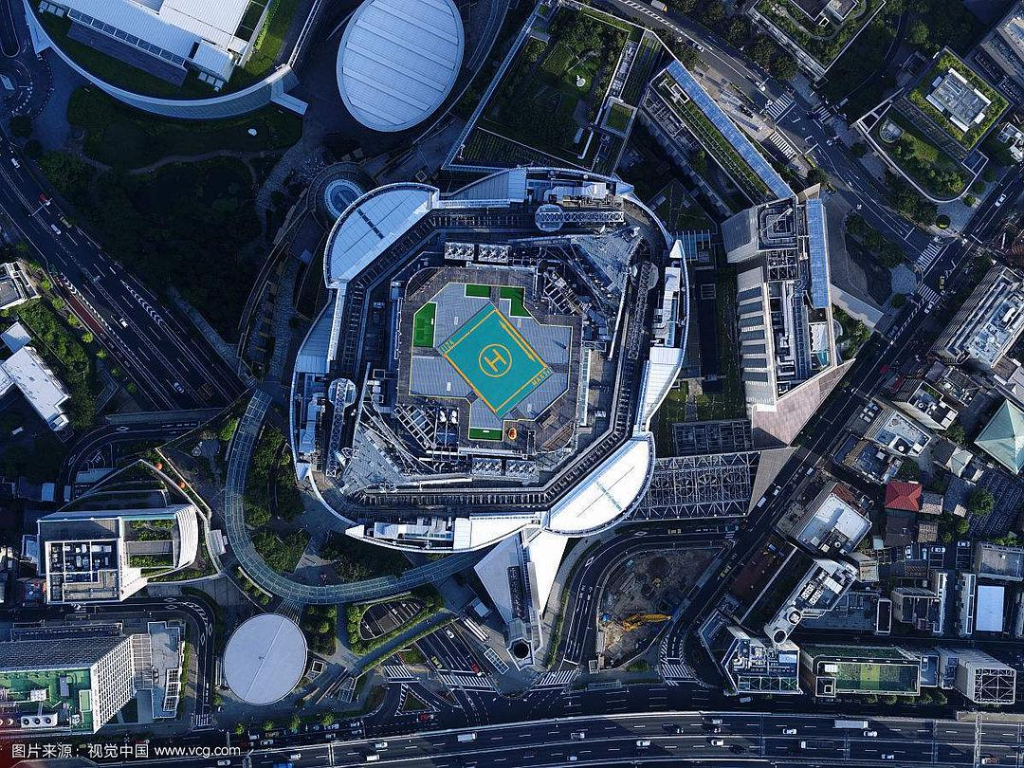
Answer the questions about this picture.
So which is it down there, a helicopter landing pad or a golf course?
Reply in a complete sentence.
The one in the frame is a helicopter landing pad.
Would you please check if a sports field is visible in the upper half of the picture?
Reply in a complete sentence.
No, looking in the upper half of the picture, there is no sports field.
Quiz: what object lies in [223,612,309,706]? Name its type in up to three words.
building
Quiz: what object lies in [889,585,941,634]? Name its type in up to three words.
building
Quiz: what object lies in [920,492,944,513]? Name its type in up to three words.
house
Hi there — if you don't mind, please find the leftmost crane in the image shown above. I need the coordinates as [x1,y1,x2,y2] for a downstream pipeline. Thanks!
[324,377,360,476]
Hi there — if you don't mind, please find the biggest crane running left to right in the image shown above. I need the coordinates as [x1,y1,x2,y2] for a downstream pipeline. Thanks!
[533,201,625,234]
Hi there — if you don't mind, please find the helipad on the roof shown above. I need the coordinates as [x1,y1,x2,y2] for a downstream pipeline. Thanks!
[398,267,582,456]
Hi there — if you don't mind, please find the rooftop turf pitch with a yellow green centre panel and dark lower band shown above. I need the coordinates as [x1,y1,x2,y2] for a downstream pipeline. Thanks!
[837,666,901,691]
